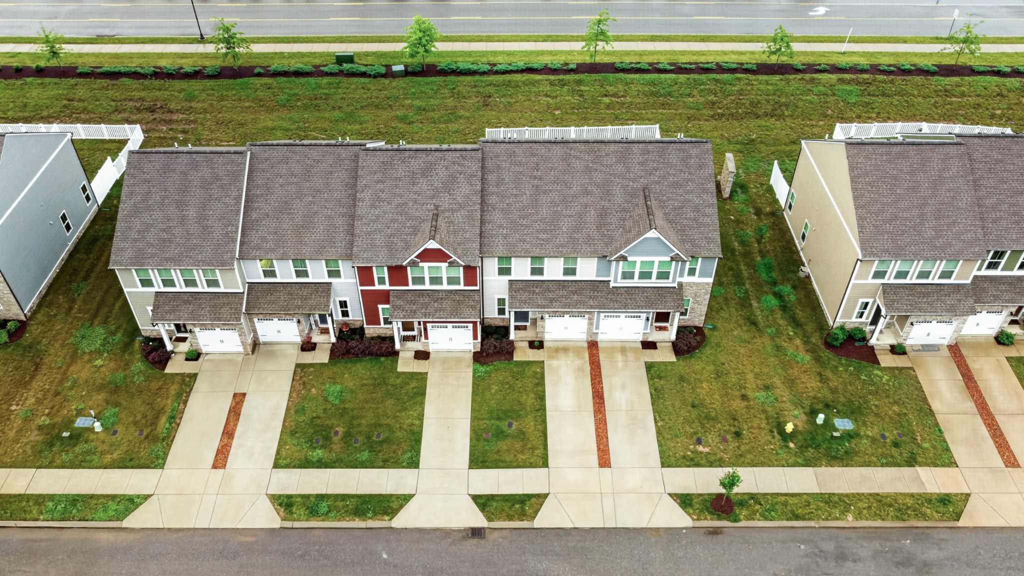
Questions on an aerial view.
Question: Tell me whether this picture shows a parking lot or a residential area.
residential area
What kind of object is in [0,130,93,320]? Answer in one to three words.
house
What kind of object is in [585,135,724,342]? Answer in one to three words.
house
